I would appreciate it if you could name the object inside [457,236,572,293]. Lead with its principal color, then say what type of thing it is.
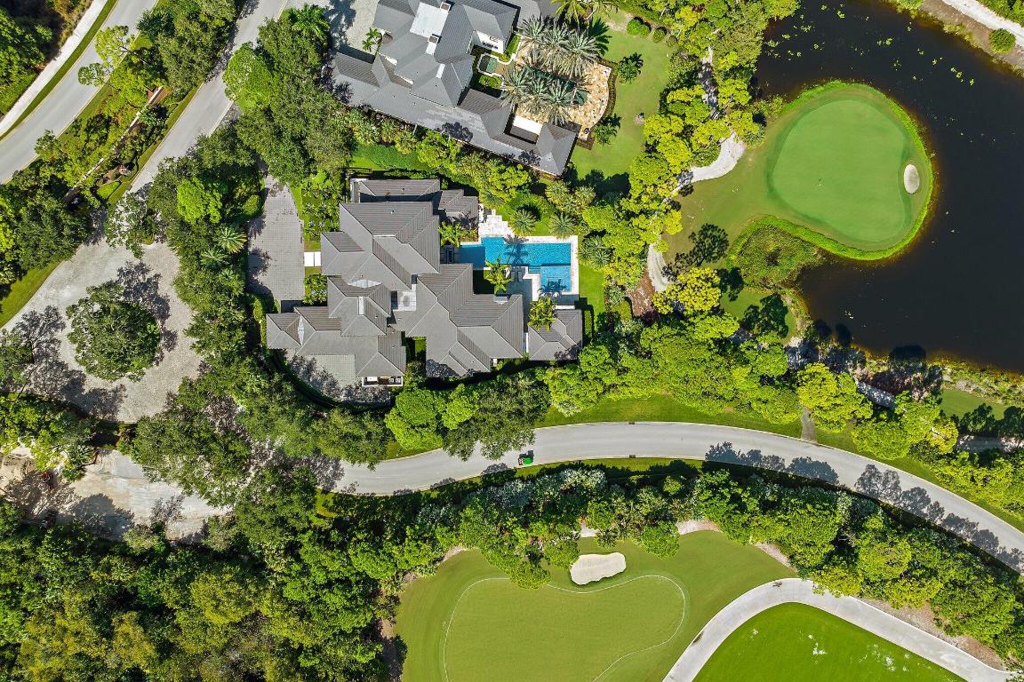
blue swimming pool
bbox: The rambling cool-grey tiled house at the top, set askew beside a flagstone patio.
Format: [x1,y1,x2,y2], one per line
[322,0,582,176]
